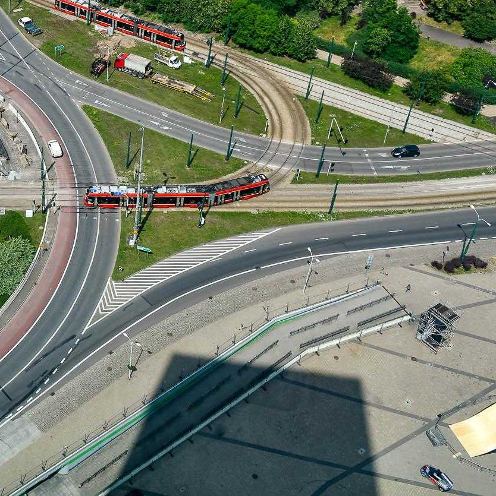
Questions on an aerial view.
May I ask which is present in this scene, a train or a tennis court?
train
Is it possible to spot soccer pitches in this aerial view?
No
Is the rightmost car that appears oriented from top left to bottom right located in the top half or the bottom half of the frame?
bottom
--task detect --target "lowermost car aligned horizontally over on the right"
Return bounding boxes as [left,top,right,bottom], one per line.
[394,142,421,156]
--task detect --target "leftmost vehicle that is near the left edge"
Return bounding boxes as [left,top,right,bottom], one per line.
[20,14,42,32]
